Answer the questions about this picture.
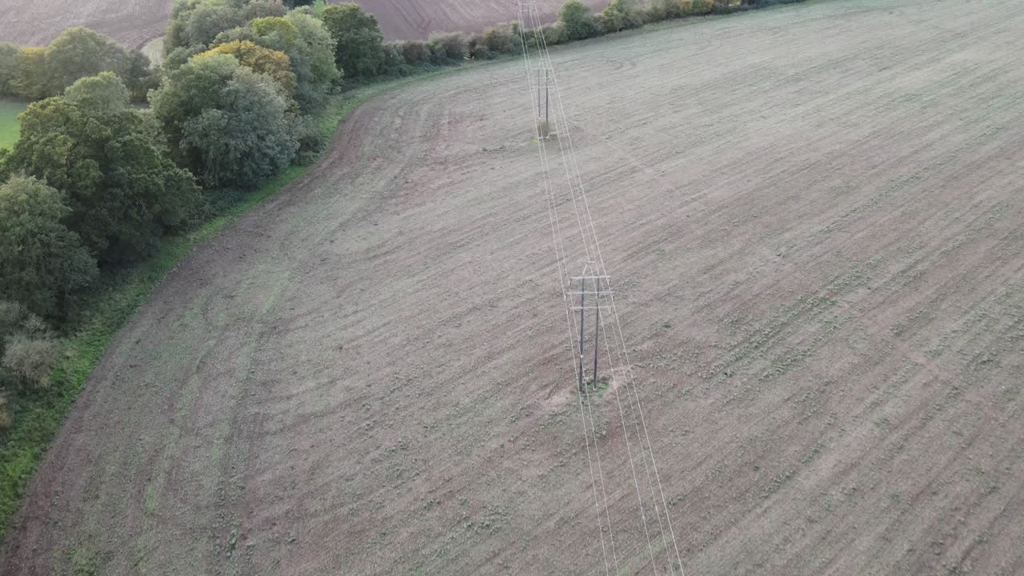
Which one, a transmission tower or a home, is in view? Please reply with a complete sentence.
The image shows a transmission tower.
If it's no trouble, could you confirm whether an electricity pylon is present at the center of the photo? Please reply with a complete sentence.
Yes, at the center of the photo there is an electricity pylon.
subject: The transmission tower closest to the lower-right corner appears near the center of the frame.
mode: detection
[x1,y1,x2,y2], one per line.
[566,261,615,391]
